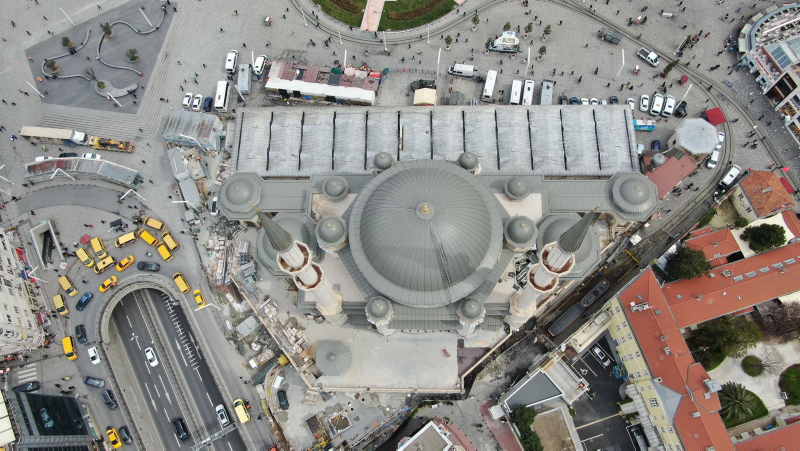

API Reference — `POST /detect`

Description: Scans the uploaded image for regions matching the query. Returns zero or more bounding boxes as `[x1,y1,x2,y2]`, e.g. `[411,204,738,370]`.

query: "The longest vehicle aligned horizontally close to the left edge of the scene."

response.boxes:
[9,124,85,146]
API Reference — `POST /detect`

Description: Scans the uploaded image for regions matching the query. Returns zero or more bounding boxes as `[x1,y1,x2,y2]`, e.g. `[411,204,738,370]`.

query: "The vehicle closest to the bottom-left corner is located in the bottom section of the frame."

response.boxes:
[9,379,39,395]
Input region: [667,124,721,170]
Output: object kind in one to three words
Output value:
house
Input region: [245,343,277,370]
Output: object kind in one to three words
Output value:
truck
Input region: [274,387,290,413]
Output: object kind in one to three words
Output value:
car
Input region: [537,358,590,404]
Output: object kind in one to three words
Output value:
building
